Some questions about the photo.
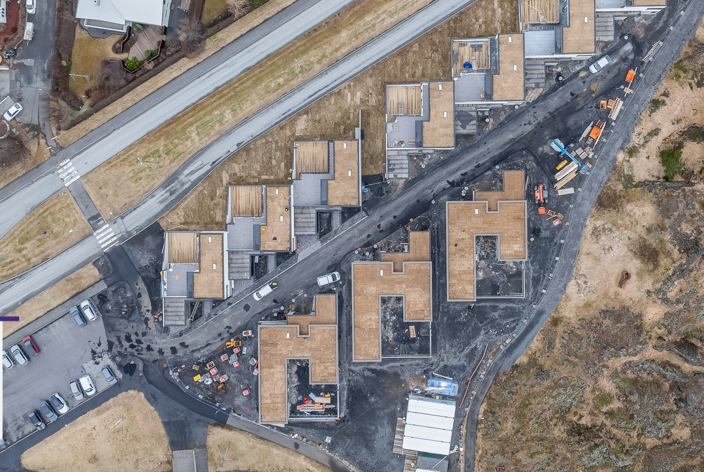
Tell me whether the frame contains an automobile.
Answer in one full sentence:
Yes, I can see an automobile in this picture.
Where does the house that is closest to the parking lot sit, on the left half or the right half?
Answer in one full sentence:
It is on the left.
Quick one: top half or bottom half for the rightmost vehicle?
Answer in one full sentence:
Seen from above, the rightmost vehicle lies in the top half of the view.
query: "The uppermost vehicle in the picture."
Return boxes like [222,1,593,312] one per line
[24,0,38,15]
